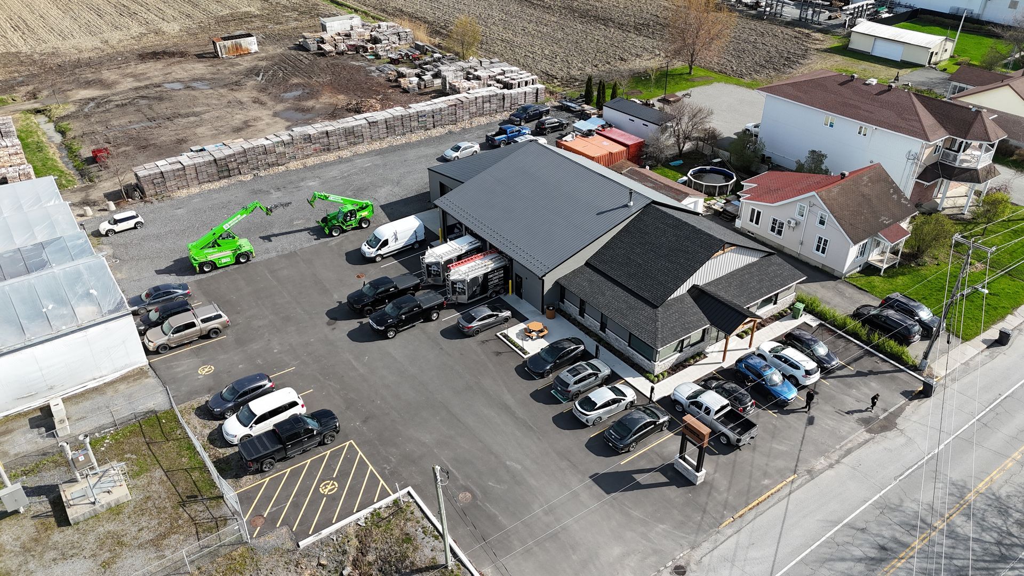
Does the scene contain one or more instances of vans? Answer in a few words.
Yes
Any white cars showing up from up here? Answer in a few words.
Yes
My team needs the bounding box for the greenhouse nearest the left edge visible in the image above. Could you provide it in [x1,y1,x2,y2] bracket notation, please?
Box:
[0,171,148,419]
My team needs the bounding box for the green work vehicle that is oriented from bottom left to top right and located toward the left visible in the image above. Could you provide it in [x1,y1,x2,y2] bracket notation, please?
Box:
[178,202,295,276]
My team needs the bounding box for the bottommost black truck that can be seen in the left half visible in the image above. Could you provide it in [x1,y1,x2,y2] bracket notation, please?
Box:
[235,410,342,474]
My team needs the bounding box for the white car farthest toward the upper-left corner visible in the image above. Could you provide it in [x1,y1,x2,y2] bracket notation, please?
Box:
[99,210,144,236]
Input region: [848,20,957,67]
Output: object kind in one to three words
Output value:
building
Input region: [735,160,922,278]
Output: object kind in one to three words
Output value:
house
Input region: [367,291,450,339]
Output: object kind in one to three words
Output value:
truck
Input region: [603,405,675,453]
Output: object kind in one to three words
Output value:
car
